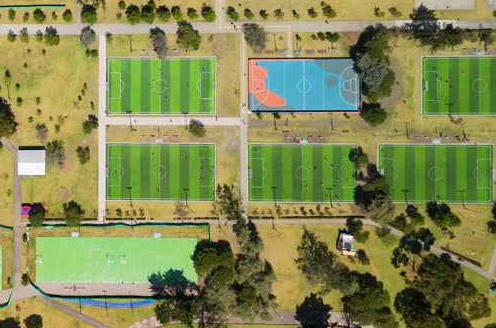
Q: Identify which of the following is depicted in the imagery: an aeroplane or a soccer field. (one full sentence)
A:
Visible in the photo is a soccer field.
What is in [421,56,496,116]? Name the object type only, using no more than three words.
soccer field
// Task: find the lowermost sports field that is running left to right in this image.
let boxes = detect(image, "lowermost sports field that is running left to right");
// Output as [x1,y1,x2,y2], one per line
[35,236,197,283]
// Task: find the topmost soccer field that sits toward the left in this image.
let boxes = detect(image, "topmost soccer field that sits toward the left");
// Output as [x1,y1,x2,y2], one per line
[107,57,216,114]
